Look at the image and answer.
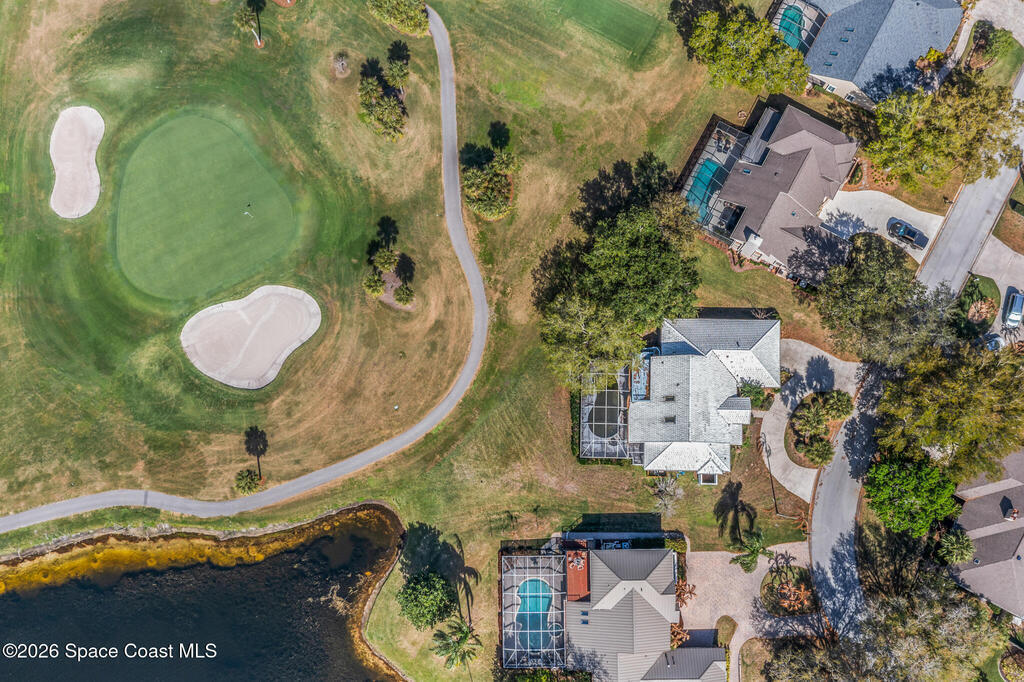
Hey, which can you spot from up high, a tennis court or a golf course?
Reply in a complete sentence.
I can see a golf course in this picture.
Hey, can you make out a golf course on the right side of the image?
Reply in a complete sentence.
No, looking on the right side of the image, there is no golf course.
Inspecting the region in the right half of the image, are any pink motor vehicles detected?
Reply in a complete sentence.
No, there's no pink motor vehicle to be seen in the right half of the image.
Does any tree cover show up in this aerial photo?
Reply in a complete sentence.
Yes, tree cover can be seen from above here.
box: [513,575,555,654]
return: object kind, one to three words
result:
swimming pool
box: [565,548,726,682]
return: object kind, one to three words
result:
house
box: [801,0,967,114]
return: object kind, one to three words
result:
house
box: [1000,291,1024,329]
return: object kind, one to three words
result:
car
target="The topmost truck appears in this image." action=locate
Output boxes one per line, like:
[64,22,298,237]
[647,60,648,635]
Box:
[885,217,932,251]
